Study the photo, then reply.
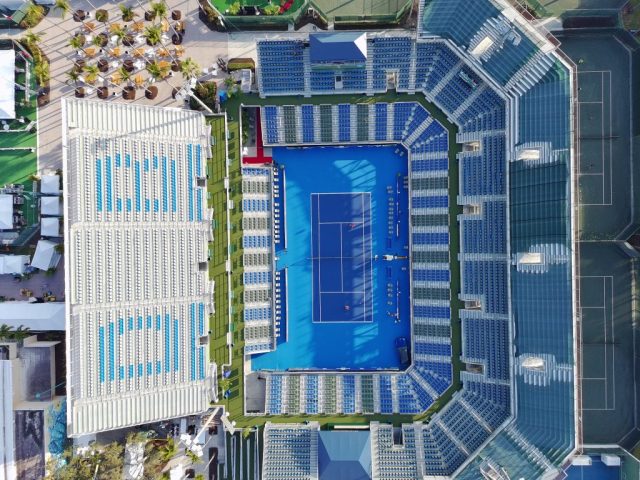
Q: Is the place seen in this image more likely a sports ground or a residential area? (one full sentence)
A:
What you see here is a sports ground.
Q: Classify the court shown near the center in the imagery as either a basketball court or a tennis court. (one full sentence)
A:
I'd identify the court shown near the center as a tennis court.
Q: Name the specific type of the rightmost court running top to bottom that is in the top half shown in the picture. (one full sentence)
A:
It looks like the rightmost court running top to bottom that is in the top half is a tennis court.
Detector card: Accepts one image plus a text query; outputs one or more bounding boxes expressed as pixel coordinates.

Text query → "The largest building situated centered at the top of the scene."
[309,31,366,72]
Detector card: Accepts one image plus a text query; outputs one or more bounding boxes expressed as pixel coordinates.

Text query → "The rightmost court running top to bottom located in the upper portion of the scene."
[566,36,631,240]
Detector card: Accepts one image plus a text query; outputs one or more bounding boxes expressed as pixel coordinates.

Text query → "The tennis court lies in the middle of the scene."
[252,146,410,371]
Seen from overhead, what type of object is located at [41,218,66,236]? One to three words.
tent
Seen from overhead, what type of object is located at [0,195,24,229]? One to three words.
tent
